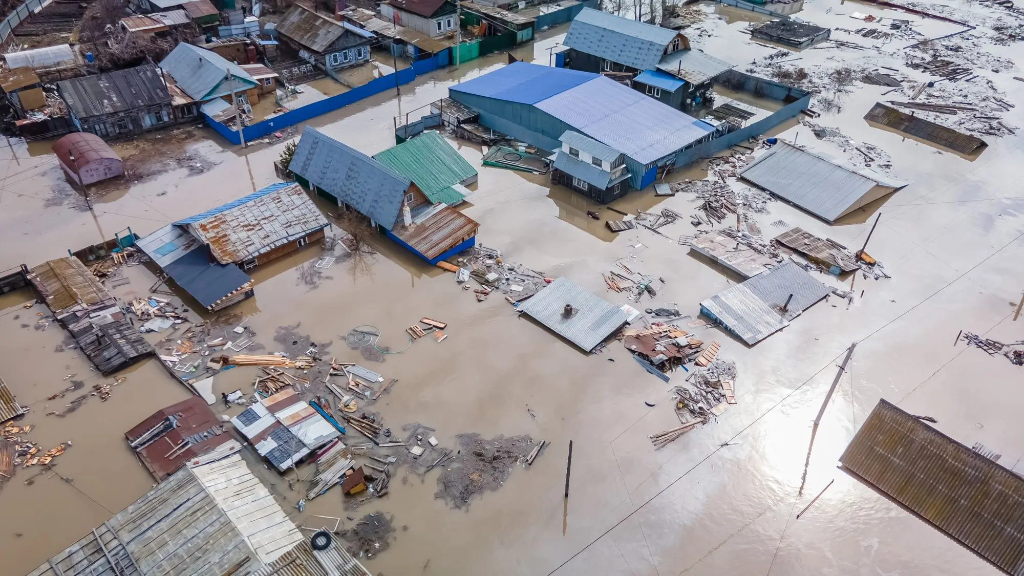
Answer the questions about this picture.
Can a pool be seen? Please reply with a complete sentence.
No, there appears to be no pool in this shot.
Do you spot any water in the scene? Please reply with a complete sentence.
Yes, some water is visible.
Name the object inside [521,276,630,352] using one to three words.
house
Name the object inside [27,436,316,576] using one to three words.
house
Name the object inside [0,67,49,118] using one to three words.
shed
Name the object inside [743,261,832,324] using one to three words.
shed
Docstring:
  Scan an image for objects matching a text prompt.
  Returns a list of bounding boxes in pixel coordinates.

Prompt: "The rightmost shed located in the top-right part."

[863,103,982,157]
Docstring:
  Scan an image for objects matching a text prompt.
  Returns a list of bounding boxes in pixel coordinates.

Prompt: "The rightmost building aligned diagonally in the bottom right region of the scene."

[838,396,1024,576]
